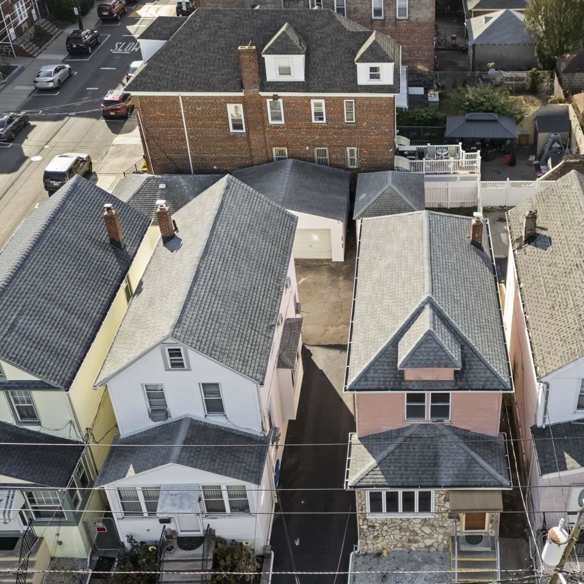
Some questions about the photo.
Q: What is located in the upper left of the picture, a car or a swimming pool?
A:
car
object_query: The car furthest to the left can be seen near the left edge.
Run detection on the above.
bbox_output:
[0,110,34,143]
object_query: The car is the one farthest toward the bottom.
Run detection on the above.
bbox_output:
[41,154,92,194]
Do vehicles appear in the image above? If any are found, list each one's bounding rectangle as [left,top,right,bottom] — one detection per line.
[98,0,129,22]
[127,58,143,85]
[174,0,196,18]
[41,154,92,194]
[67,28,103,55]
[100,87,138,120]
[0,110,34,143]
[36,63,75,90]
